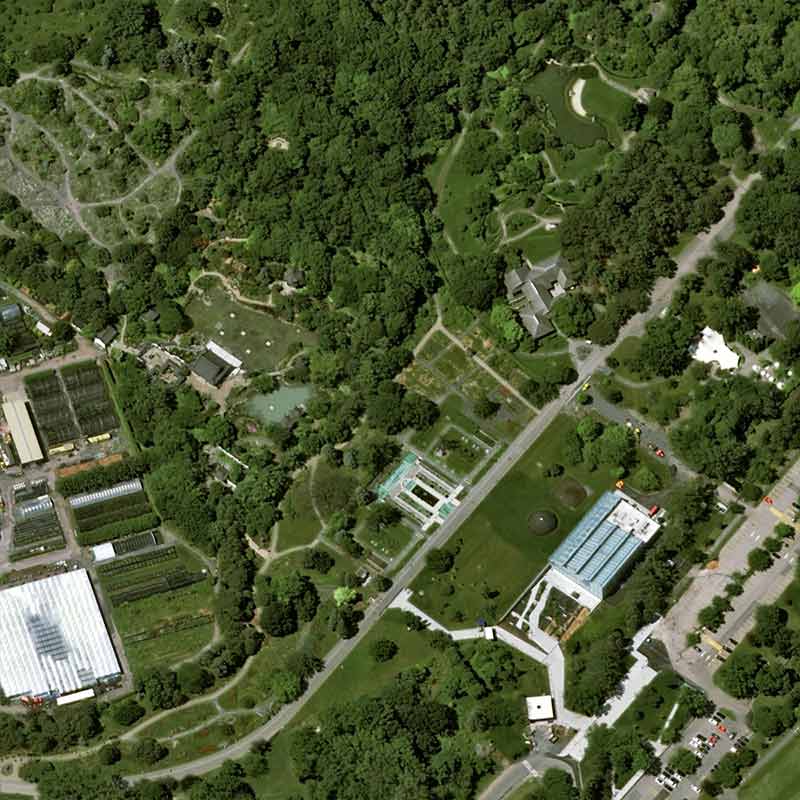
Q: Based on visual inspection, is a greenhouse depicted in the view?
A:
Yes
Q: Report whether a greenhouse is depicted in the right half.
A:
Yes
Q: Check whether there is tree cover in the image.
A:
Yes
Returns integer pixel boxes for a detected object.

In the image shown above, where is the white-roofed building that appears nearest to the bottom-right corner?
[526,695,553,720]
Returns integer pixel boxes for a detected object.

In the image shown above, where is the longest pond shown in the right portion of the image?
[524,66,609,148]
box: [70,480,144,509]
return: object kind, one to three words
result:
greenhouse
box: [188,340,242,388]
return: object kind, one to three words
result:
building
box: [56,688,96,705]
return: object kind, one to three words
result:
shed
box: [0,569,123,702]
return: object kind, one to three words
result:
greenhouse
